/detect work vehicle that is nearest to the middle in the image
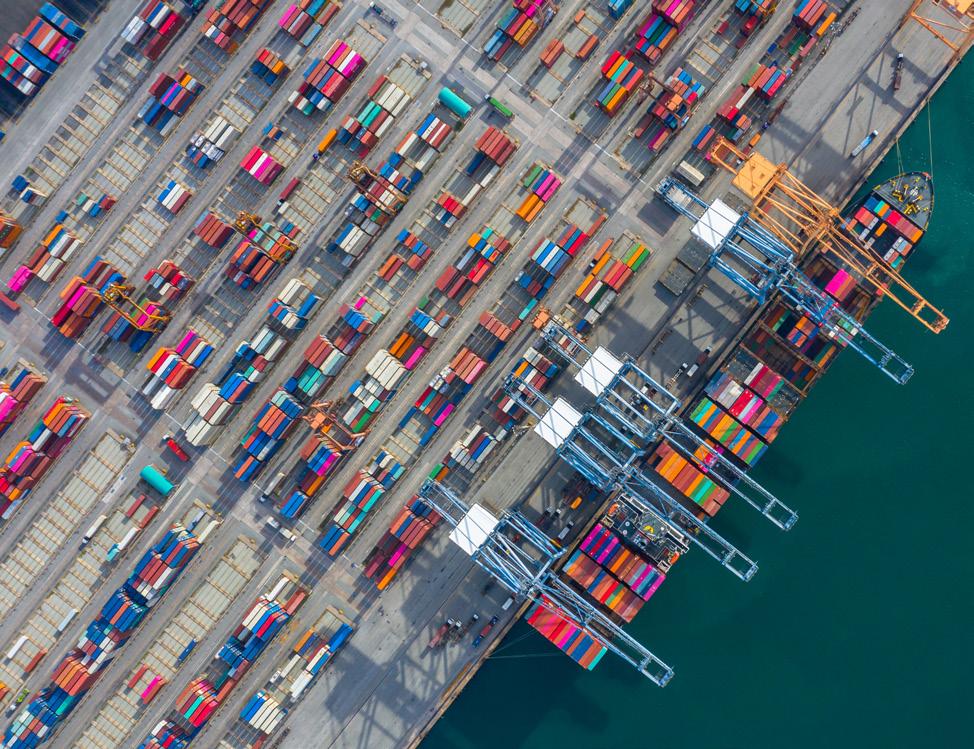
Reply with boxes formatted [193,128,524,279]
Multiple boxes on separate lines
[513,416,536,432]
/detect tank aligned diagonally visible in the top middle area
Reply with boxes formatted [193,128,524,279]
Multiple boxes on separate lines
[438,88,473,120]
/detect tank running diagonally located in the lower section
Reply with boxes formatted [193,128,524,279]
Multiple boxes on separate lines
[139,467,177,497]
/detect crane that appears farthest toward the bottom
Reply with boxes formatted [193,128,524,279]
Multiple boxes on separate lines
[420,480,672,685]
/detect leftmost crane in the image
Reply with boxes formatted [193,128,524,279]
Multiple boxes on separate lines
[103,275,184,332]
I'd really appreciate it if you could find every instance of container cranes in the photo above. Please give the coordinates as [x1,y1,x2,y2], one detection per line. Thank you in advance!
[634,68,697,137]
[900,0,974,65]
[543,324,797,532]
[234,199,308,261]
[657,180,912,390]
[695,131,953,342]
[308,392,378,446]
[420,480,672,685]
[343,155,411,219]
[502,375,755,583]
[103,275,184,332]
[534,303,592,358]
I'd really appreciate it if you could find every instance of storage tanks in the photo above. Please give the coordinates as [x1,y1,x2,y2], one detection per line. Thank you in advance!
[139,467,177,497]
[438,88,473,120]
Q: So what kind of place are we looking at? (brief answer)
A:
port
